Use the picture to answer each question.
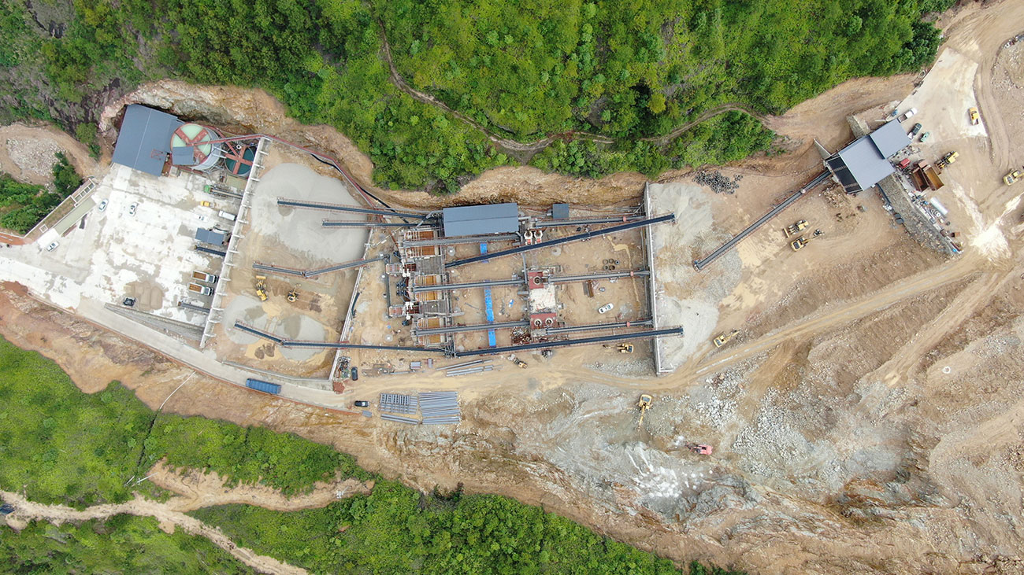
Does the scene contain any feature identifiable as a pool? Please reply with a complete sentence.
No, there appears to be no pool in this shot.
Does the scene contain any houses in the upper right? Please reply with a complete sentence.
Yes, in the upper right there is a house.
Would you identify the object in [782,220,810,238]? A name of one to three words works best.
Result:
work vehicle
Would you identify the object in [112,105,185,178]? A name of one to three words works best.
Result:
building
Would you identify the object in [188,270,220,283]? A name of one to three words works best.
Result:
vehicle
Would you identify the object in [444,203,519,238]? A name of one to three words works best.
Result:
house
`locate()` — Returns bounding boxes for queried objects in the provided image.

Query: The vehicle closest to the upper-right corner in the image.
[969,106,982,124]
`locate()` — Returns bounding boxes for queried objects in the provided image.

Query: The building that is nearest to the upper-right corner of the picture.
[822,118,911,194]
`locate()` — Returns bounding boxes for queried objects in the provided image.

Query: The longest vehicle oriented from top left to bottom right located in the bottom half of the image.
[507,354,526,369]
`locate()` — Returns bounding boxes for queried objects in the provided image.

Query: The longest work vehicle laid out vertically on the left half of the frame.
[252,272,267,301]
